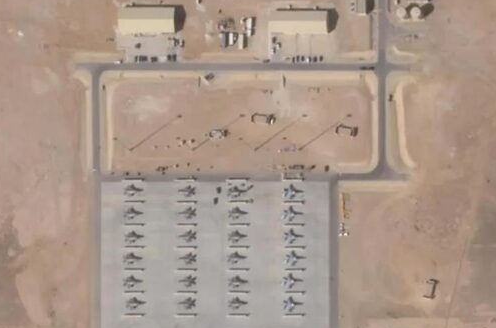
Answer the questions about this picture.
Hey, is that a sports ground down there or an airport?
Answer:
airport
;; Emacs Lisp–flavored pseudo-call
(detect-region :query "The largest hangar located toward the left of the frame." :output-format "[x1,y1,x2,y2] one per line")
[117,6,177,34]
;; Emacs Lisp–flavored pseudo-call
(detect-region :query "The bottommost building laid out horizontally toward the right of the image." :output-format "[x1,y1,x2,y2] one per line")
[267,11,329,34]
